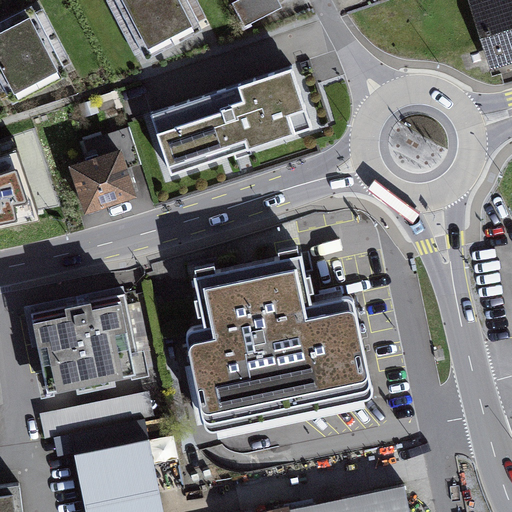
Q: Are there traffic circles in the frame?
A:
Yes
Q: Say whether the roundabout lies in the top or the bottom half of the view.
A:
top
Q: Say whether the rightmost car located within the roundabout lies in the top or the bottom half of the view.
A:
top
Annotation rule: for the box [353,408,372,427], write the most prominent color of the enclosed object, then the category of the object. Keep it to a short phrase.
white car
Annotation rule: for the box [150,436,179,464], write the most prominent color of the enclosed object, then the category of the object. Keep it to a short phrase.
white tent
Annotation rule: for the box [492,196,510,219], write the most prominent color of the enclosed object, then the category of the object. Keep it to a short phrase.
white car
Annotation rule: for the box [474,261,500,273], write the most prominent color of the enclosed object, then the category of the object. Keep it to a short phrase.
white vehicle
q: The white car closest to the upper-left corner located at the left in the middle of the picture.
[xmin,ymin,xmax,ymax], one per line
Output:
[110,203,132,216]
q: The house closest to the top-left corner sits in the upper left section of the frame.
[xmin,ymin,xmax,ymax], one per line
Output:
[0,6,70,100]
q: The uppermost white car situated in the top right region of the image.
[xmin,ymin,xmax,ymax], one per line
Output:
[431,90,454,110]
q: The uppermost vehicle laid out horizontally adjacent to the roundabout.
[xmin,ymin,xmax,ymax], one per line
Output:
[329,178,354,190]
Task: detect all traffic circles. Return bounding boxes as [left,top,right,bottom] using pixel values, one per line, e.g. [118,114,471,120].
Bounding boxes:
[349,75,488,214]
